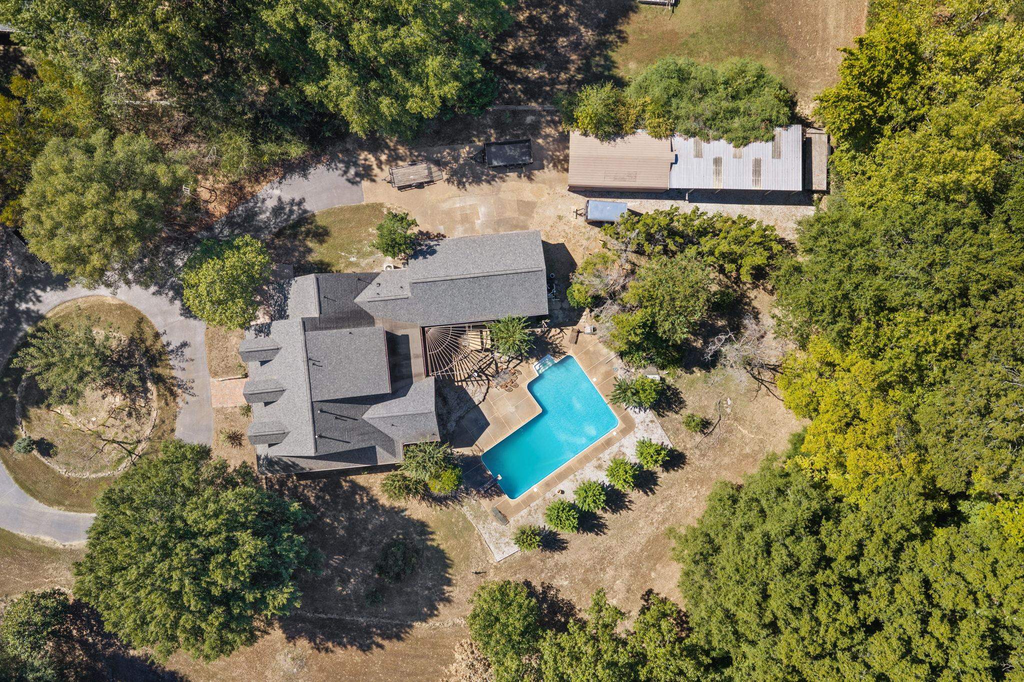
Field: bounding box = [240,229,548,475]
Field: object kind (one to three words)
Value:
house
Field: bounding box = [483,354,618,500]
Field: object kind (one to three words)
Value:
swimming pool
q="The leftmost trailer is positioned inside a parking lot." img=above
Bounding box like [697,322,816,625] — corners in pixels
[380,160,444,191]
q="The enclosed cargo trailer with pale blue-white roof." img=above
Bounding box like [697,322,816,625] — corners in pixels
[569,201,627,228]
